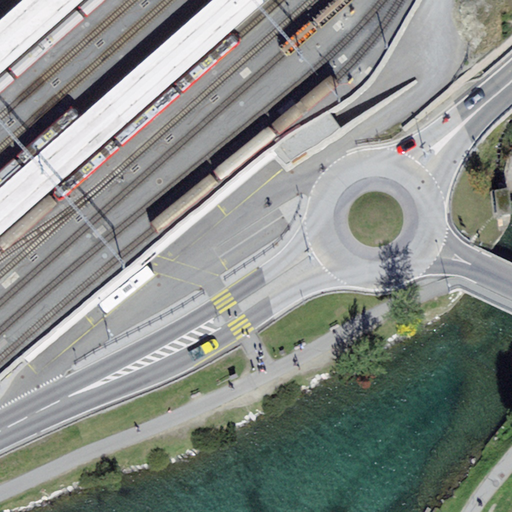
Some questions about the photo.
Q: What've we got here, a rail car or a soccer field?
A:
rail car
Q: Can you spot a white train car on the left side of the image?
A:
Yes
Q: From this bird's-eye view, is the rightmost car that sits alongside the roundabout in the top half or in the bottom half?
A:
top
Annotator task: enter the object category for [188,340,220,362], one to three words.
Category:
truck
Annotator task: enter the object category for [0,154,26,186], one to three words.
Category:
rail car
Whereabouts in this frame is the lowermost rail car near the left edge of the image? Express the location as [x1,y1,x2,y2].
[0,192,61,248]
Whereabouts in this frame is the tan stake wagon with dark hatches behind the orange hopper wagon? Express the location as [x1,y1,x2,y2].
[312,0,352,28]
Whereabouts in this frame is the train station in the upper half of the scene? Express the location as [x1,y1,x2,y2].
[0,0,415,380]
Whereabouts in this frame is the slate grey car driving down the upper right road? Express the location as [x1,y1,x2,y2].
[464,88,485,108]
